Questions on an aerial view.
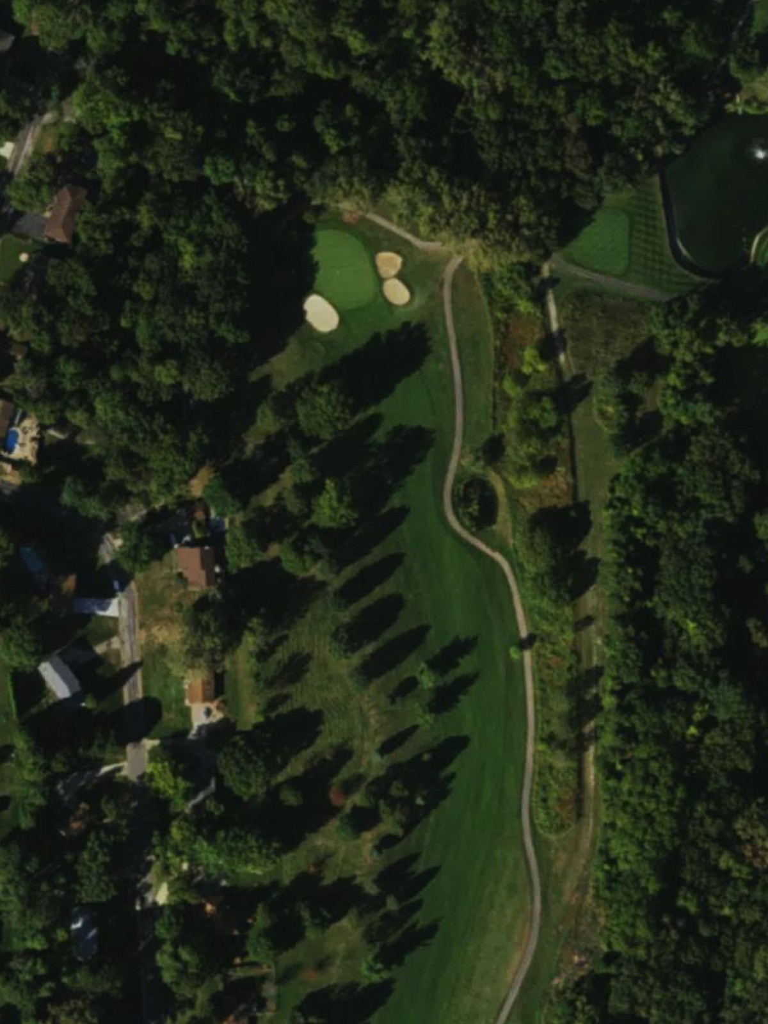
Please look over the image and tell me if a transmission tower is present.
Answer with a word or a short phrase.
No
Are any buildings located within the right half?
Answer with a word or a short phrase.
No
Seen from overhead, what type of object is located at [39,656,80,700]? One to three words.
house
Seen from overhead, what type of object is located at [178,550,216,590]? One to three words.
house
